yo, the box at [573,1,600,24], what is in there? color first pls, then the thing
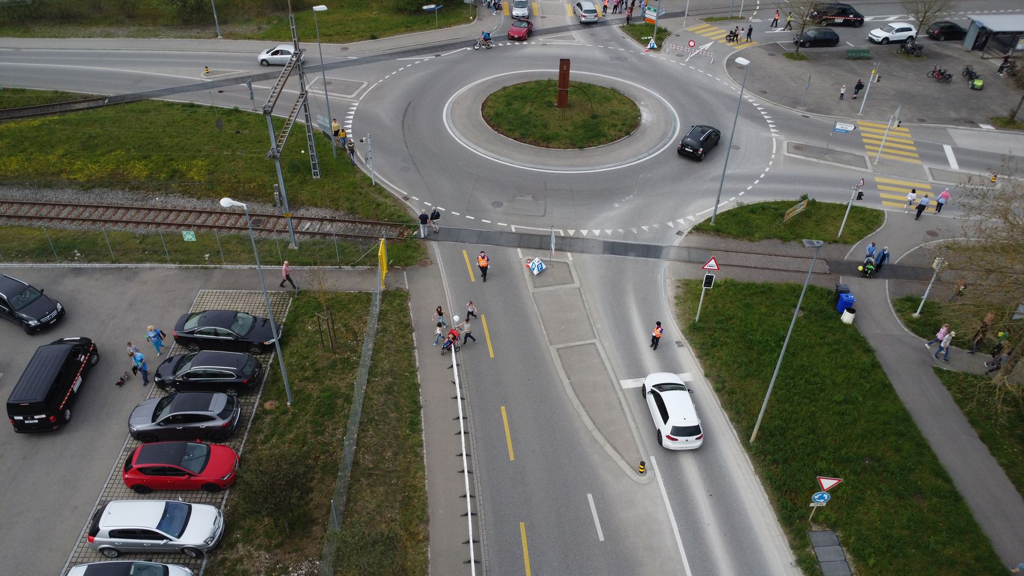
gray car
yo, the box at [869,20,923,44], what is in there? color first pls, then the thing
white car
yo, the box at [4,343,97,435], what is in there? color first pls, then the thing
black van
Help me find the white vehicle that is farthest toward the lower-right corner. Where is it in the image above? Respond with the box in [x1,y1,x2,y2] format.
[642,372,706,455]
